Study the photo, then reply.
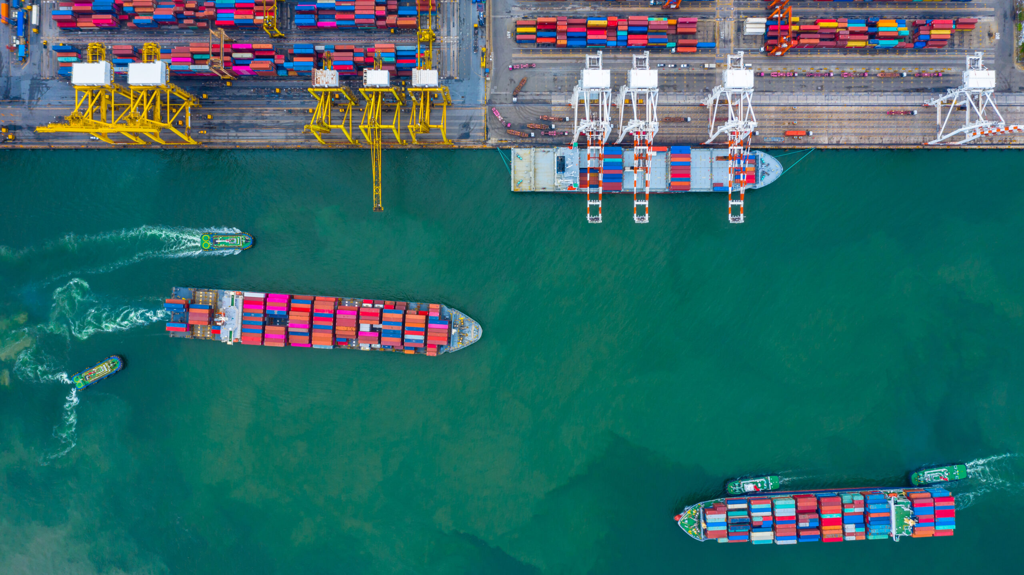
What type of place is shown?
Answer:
port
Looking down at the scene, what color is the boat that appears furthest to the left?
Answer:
green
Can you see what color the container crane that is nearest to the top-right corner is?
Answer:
white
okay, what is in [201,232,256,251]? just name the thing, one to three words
boat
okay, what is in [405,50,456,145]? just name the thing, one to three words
container crane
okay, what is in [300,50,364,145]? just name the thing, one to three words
container crane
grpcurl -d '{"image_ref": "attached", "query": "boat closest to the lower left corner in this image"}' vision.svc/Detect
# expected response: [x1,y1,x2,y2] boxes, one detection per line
[73,356,124,390]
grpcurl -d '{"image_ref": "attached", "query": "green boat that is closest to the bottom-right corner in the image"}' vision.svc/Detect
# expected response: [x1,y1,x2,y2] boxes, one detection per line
[909,462,967,486]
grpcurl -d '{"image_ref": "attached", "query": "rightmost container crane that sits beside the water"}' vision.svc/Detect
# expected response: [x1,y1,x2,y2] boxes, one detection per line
[919,50,1024,145]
